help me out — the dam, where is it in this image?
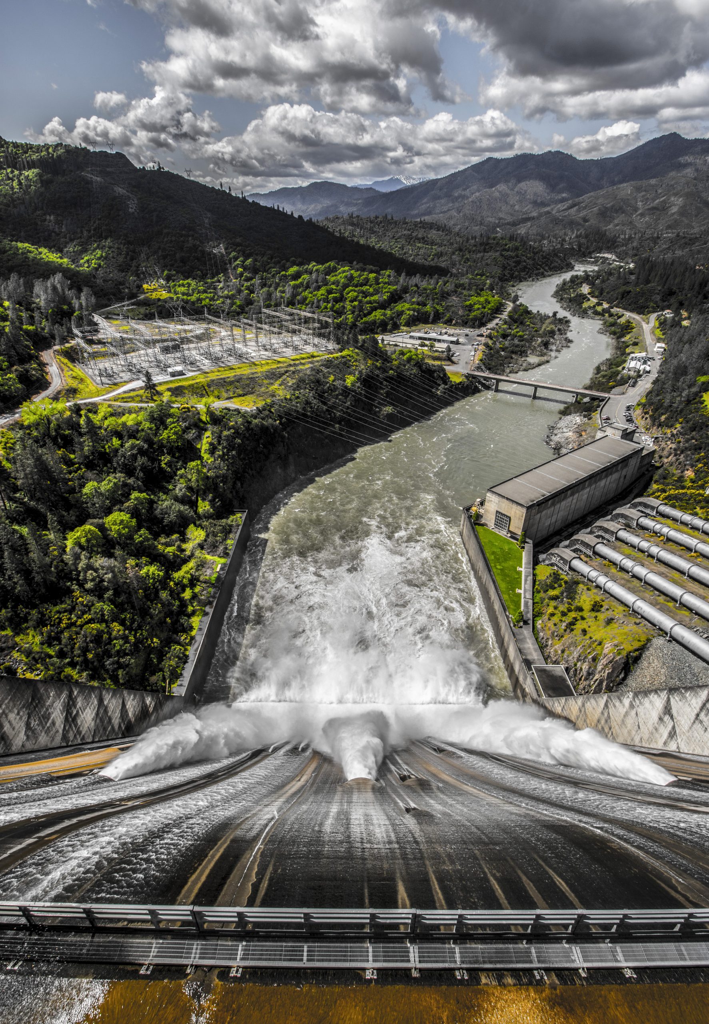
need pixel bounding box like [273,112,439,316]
[0,683,709,1024]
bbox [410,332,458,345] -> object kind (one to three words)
shed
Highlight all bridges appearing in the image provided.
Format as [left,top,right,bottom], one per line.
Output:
[466,369,610,398]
